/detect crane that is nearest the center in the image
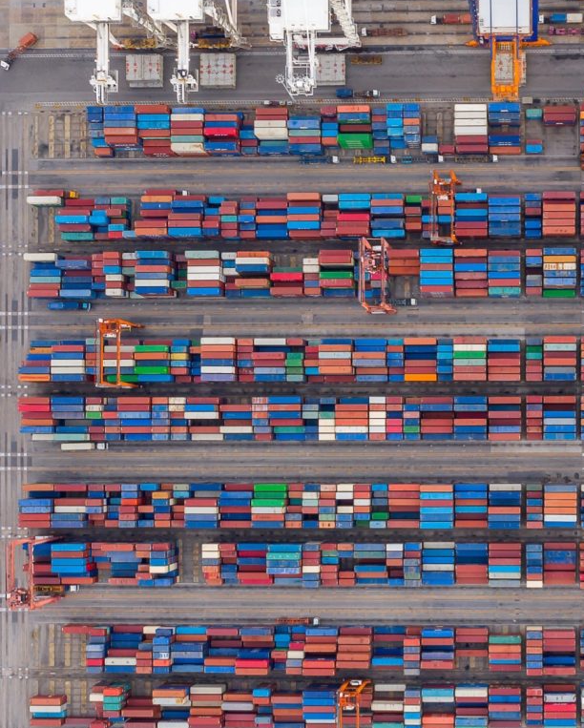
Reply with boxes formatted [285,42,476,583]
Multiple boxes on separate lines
[359,238,399,314]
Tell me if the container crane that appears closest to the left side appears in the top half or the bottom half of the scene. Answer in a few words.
bottom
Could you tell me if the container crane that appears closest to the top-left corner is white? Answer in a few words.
Yes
